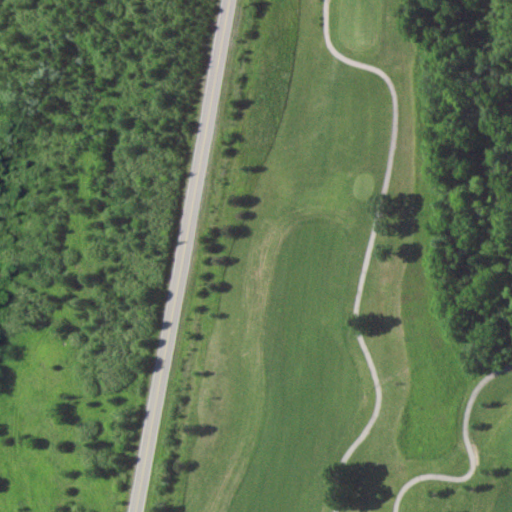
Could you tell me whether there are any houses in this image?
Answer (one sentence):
No, the picture doesn't show any house.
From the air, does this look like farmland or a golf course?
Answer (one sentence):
The area seen from above is a golf course.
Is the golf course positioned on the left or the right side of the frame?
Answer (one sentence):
The golf course appears in the right half of the scene.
